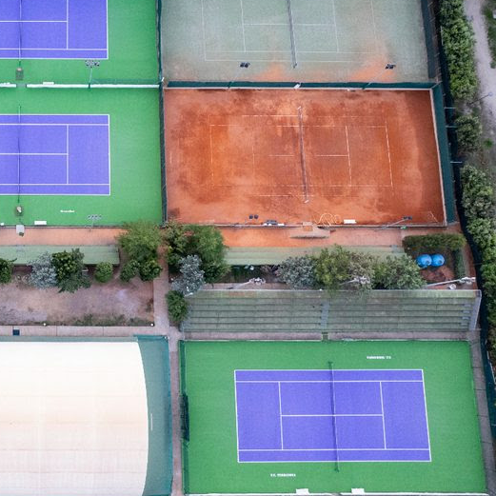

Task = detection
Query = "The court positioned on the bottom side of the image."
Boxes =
[185,341,486,493]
